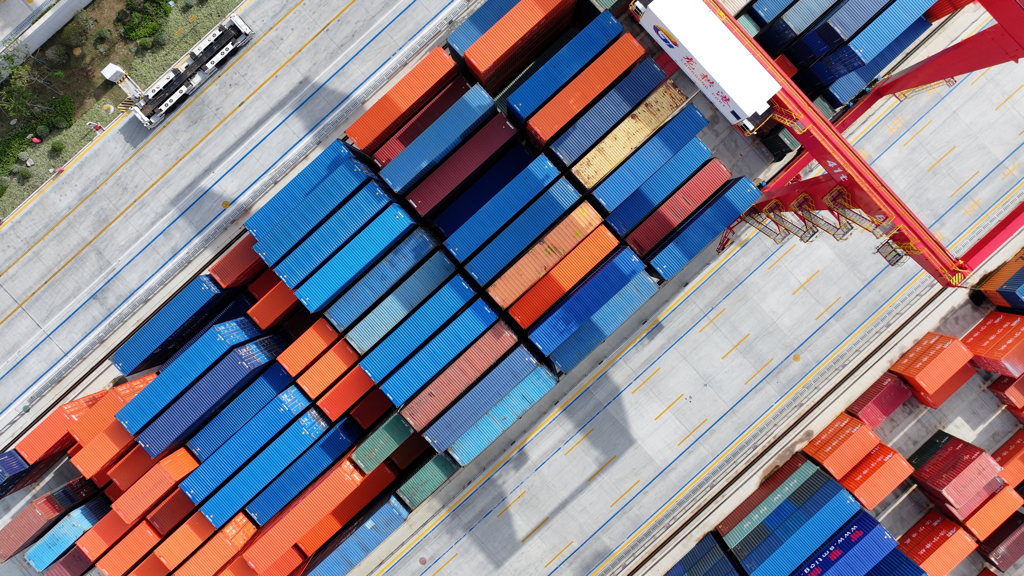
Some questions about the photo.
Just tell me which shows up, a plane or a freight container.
freight container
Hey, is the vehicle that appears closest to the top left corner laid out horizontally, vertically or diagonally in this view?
diagonally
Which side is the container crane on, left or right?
right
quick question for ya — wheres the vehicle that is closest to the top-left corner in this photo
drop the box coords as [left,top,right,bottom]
[130,12,258,131]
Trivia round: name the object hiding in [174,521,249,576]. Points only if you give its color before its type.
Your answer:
orange shipping container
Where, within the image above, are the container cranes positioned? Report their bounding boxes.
[617,0,1024,293]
